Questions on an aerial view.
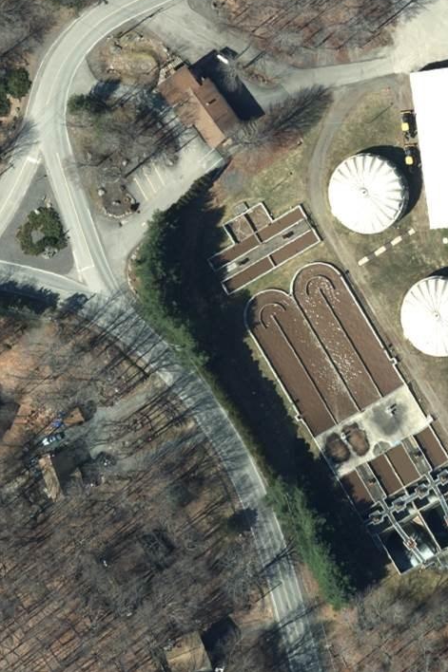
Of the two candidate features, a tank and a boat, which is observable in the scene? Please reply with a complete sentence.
Looking from above, you can make out a tank.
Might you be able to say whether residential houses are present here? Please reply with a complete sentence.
Yes, I can see a residential house in this picture.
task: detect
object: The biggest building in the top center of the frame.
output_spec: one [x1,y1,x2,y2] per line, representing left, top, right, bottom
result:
[159,60,244,147]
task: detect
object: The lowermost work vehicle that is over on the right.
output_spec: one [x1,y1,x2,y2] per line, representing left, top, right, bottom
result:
[402,138,416,165]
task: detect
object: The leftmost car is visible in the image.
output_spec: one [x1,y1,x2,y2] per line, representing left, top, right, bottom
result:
[25,450,42,470]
